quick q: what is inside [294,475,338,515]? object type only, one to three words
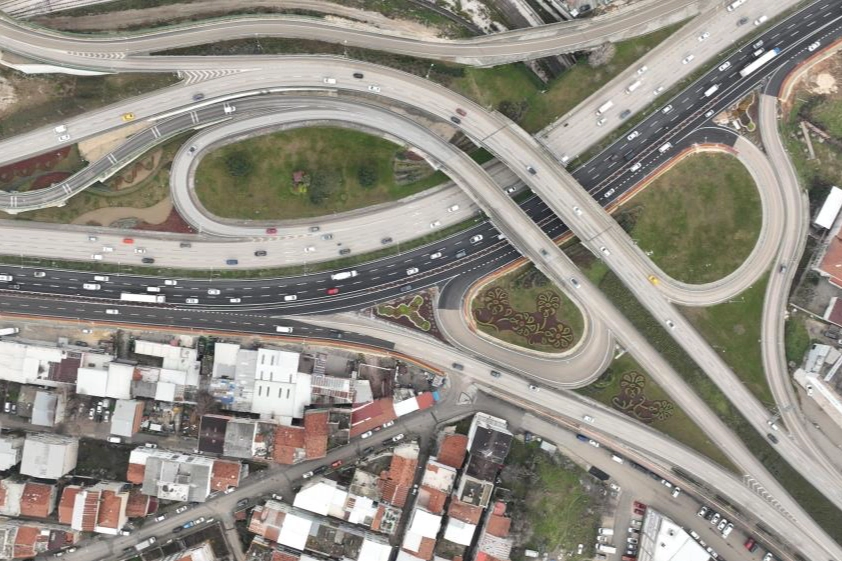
house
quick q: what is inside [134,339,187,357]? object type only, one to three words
building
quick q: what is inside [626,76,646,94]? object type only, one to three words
vehicle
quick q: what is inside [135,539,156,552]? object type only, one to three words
vehicle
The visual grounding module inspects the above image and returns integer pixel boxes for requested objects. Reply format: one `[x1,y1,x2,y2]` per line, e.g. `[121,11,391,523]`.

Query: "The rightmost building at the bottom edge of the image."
[651,510,717,561]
